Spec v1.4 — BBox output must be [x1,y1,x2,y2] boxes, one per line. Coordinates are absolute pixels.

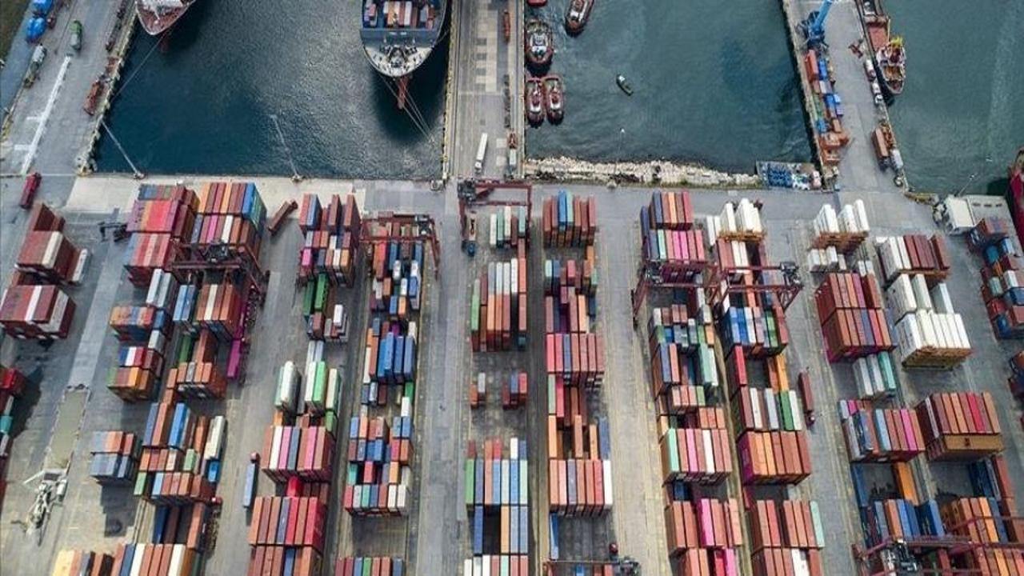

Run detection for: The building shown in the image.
[928,197,976,238]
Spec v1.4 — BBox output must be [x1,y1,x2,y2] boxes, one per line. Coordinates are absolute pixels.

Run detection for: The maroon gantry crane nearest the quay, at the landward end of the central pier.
[458,180,534,240]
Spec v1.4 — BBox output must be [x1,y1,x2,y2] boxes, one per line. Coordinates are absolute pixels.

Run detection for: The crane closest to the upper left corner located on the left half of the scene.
[166,239,268,299]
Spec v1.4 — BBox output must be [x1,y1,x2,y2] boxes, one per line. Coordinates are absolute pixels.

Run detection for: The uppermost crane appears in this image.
[792,0,839,53]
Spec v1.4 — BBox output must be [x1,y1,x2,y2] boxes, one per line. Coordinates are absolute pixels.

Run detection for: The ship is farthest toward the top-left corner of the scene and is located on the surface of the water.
[142,0,207,59]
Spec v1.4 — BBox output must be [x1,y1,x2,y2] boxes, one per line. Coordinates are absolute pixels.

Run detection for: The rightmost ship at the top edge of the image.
[850,0,915,105]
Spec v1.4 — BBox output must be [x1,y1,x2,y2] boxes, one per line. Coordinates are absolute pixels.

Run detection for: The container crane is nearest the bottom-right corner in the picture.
[938,512,1024,564]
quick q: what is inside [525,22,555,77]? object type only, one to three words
boat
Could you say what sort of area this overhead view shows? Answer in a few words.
port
